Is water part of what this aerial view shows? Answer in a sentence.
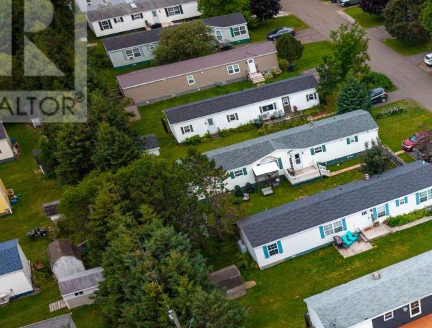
No, there's no water in this view.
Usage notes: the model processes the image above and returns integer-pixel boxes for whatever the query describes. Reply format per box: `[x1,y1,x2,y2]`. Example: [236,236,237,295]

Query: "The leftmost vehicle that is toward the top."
[266,27,298,42]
